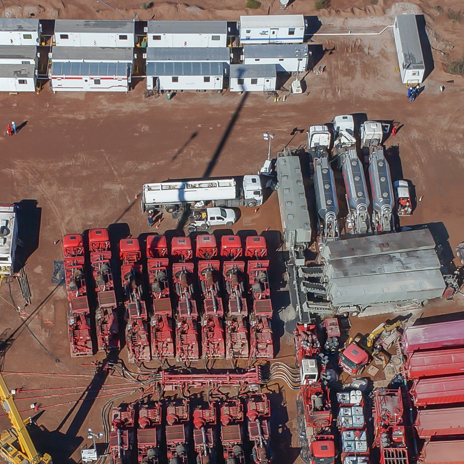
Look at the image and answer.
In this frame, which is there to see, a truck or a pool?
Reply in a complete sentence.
There is a truck in the scene.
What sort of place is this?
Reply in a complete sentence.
What you see here is an industrial area.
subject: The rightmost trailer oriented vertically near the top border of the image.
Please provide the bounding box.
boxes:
[393,13,425,89]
